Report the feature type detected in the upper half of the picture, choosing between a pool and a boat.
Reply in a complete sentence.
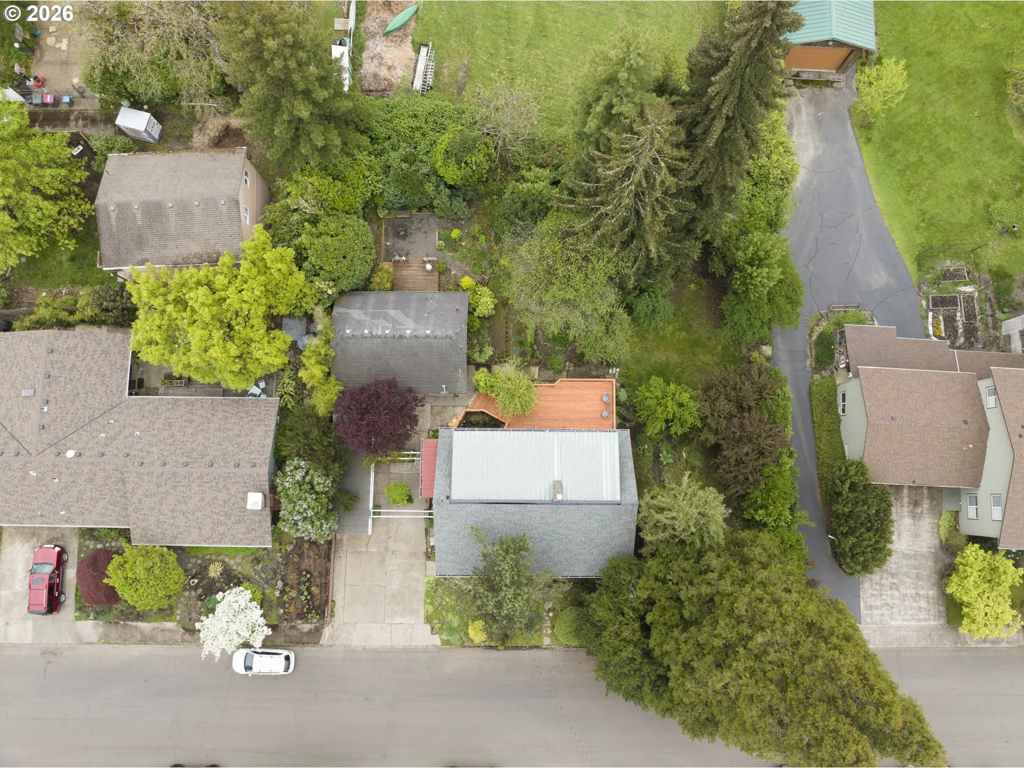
What appears in the upper half of the picture is a boat.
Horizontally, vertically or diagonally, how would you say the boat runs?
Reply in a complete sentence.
The boat is laid out diagonally.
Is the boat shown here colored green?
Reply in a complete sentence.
Yes, the boat is indeed green.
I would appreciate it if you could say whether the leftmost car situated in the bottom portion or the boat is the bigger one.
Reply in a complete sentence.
The boat is smaller than the car.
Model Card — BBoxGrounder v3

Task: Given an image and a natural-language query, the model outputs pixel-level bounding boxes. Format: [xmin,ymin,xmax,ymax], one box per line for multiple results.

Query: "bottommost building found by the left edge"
[0,328,296,549]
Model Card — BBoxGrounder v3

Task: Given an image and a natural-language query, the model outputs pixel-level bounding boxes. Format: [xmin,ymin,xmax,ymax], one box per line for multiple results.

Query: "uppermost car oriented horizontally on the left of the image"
[232,647,297,678]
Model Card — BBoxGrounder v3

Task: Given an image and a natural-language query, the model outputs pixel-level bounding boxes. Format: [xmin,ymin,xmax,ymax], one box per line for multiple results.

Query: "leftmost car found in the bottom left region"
[26,544,68,614]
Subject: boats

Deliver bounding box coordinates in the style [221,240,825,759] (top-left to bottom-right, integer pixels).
[382,4,419,37]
